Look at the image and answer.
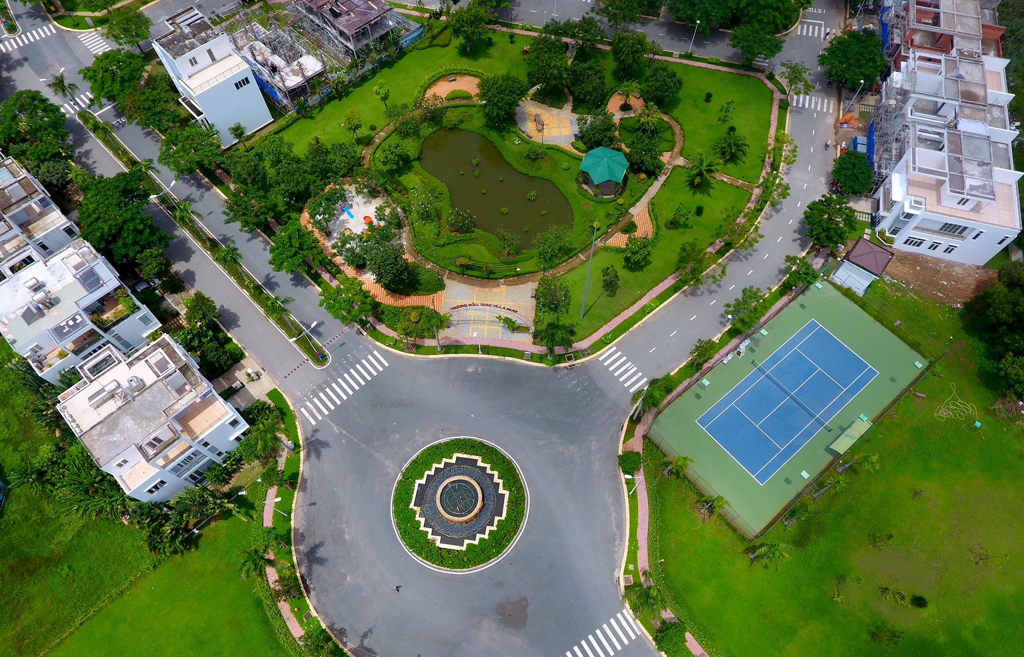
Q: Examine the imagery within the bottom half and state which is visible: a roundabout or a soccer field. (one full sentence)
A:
The feature located within the bottom half is a roundabout.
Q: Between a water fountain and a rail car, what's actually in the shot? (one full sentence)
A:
Looking from above, you can make out a water fountain.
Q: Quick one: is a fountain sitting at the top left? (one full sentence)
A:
No, there is no fountain at the top left.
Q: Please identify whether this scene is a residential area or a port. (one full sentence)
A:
This looks like a residential area.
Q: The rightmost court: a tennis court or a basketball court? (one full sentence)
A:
From above, the rightmost court can be identified as a tennis court.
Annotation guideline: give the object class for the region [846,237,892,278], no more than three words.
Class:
shed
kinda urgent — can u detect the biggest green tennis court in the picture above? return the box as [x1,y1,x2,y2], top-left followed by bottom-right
[653,280,929,531]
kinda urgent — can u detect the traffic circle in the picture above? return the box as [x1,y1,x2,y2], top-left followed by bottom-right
[390,437,531,580]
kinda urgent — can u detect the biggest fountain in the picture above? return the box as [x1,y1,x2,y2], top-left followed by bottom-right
[408,452,511,556]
